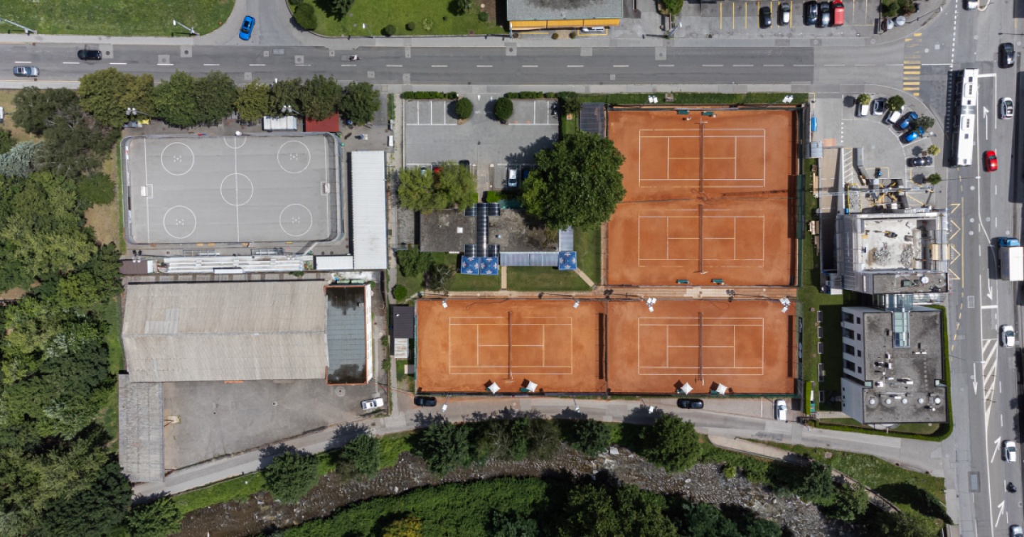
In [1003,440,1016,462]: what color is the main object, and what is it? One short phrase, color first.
white vehicle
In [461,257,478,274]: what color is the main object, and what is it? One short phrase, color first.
blue umbrella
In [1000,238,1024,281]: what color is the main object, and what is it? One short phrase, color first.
white truck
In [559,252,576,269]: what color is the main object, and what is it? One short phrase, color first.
blue umbrella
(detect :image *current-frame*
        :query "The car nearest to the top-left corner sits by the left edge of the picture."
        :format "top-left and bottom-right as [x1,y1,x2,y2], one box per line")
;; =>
[12,65,40,77]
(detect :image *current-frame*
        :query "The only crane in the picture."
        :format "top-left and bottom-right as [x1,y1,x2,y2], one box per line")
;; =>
[816,182,934,207]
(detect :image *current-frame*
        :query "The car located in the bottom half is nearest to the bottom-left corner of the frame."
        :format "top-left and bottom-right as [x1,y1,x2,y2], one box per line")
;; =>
[359,398,385,410]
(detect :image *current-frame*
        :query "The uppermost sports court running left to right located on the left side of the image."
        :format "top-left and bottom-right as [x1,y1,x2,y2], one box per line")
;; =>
[119,133,343,245]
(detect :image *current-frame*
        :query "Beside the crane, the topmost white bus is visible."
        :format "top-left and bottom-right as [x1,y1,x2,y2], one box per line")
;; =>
[948,69,978,168]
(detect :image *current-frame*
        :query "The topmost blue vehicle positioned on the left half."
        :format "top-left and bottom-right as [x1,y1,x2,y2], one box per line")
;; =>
[239,16,253,40]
